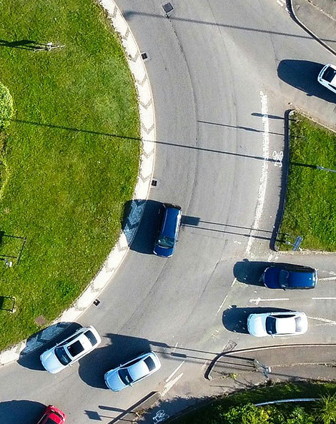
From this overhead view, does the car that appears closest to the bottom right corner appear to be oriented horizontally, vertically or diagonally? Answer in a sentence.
The car that appears closest to the bottom right corner runs horizontally in the image.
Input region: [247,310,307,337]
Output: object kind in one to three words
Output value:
car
